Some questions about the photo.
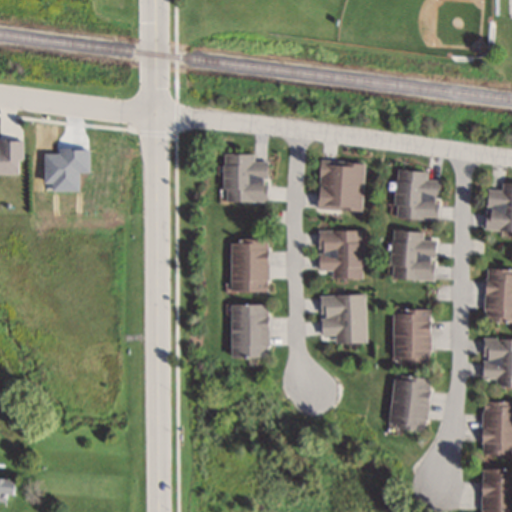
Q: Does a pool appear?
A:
No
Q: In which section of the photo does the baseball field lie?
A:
top right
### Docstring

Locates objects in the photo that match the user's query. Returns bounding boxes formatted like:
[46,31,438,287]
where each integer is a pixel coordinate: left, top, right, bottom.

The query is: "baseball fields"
[418,0,486,51]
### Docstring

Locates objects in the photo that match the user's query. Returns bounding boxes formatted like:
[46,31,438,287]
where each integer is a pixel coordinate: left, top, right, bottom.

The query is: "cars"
[435,166,440,178]
[431,406,442,411]
[429,169,434,179]
[468,423,480,428]
[270,339,283,344]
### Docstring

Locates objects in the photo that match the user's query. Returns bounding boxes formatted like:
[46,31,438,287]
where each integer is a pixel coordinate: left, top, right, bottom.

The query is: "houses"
[320,230,364,280]
[317,159,367,212]
[388,170,442,220]
[322,294,368,345]
[226,303,269,360]
[220,154,268,206]
[486,268,512,320]
[0,480,16,509]
[394,230,436,281]
[226,238,269,294]
[483,468,512,512]
[0,136,19,176]
[390,377,432,432]
[486,183,512,232]
[483,402,512,462]
[394,309,432,364]
[484,338,512,388]
[44,148,90,192]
